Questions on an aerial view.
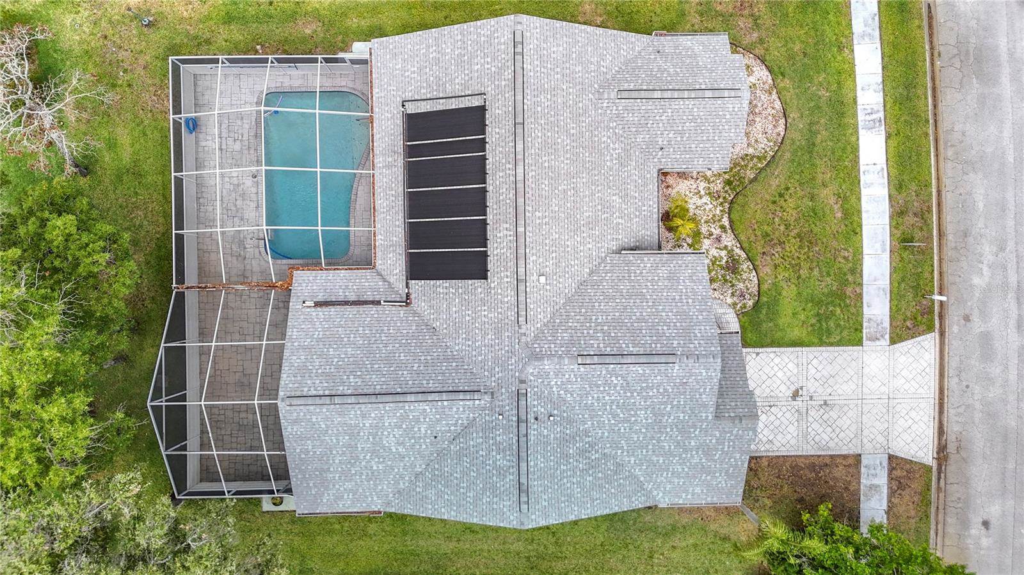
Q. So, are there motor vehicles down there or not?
No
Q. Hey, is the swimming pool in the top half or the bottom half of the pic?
top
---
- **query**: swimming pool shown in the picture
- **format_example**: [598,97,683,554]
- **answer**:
[265,91,369,259]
